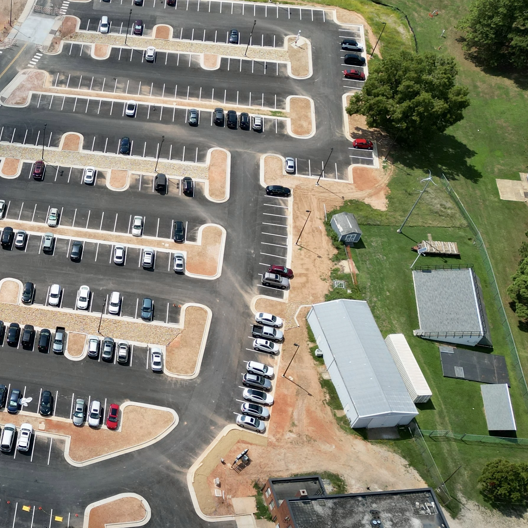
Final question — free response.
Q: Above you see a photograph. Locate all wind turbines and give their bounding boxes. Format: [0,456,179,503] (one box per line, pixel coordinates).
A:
[395,178,436,234]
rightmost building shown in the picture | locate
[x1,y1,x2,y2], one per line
[411,265,492,347]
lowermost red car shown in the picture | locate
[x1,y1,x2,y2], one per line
[106,404,120,430]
